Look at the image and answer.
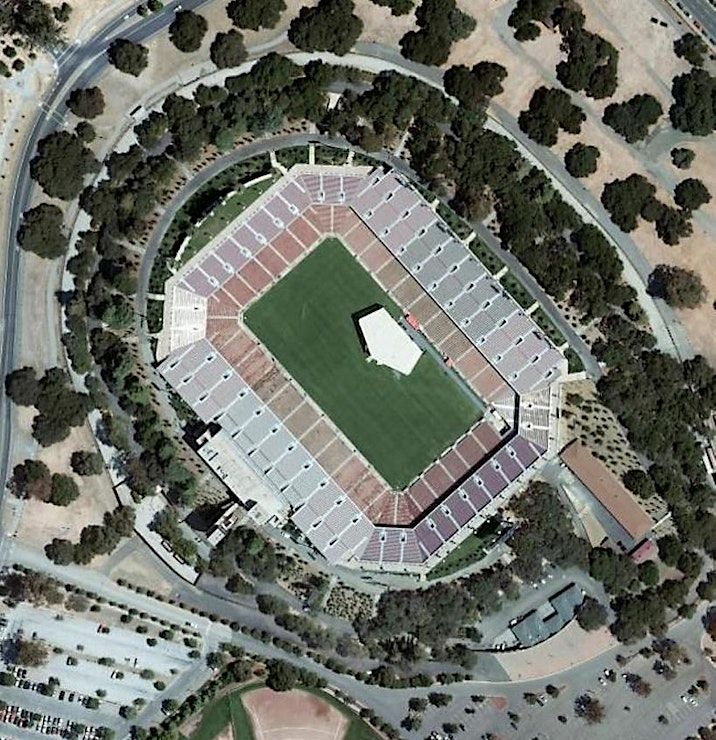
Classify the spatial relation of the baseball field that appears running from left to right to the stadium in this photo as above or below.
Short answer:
below it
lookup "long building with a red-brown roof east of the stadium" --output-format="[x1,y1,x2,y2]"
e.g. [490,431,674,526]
[562,441,655,542]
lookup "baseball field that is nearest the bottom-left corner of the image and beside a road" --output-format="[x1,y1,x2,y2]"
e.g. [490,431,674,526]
[197,683,371,740]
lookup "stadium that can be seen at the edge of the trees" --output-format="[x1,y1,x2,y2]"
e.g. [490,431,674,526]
[157,163,567,572]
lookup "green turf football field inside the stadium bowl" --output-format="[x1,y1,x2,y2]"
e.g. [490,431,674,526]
[245,239,514,489]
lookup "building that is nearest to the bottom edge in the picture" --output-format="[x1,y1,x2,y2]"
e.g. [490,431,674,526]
[488,582,586,652]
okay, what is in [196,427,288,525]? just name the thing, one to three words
building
